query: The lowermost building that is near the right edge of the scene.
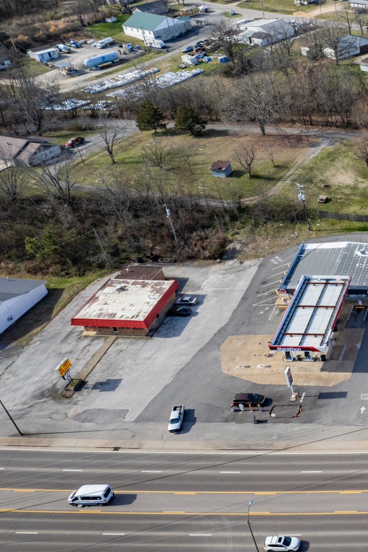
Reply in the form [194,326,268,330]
[279,241,368,309]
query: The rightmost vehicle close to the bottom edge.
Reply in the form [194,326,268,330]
[263,534,302,552]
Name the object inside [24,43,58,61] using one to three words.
building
